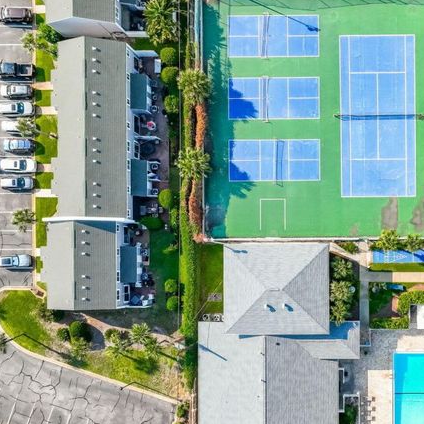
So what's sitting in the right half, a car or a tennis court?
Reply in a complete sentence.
The one visible in the right half is a tennis court.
